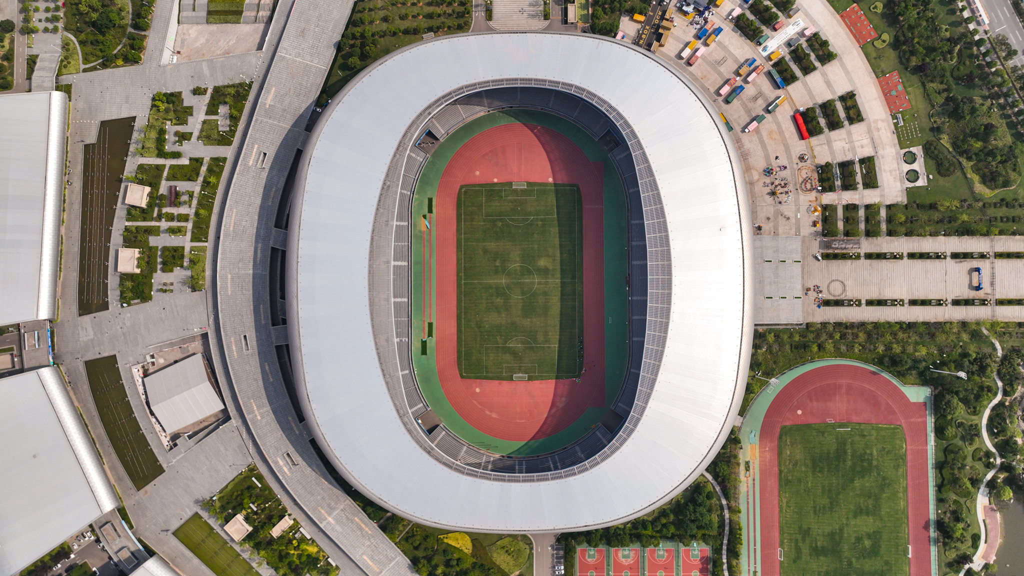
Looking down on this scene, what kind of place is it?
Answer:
sports ground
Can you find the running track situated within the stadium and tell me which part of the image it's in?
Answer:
center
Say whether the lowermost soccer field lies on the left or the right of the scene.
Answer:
right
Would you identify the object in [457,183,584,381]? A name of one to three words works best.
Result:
soccer field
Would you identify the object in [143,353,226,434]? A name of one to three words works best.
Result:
building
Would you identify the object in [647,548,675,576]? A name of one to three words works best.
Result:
basketball court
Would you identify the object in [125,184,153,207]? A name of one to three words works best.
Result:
building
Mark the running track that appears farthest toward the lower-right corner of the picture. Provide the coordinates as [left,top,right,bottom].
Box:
[740,359,937,576]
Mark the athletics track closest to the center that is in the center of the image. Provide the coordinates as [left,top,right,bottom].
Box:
[412,108,628,457]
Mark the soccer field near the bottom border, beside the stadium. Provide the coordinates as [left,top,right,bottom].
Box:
[779,423,910,576]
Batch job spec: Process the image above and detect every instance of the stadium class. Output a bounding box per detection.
[285,27,756,536]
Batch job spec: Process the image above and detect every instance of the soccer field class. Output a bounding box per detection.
[779,423,910,576]
[457,183,584,381]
